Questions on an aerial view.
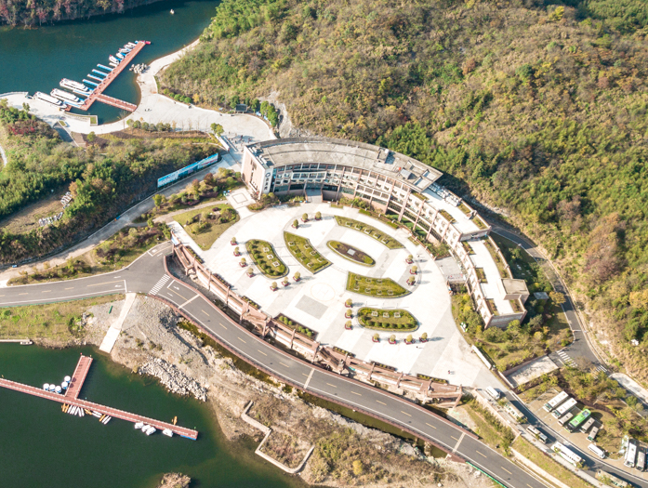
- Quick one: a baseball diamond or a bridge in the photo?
bridge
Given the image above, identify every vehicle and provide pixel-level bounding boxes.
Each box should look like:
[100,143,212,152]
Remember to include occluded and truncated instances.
[547,398,578,422]
[553,412,574,428]
[592,471,628,488]
[584,444,606,461]
[547,442,585,472]
[583,427,600,444]
[482,387,502,404]
[620,441,637,469]
[523,425,549,447]
[560,410,591,435]
[632,451,647,474]
[538,391,570,415]
[576,417,597,436]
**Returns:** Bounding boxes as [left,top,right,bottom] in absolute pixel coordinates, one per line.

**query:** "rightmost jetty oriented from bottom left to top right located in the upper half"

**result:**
[80,40,146,111]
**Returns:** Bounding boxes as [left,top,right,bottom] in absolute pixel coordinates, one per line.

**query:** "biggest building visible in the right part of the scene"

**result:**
[243,137,541,347]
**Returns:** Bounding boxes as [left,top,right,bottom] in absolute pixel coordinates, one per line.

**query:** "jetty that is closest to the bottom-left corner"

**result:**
[0,355,198,442]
